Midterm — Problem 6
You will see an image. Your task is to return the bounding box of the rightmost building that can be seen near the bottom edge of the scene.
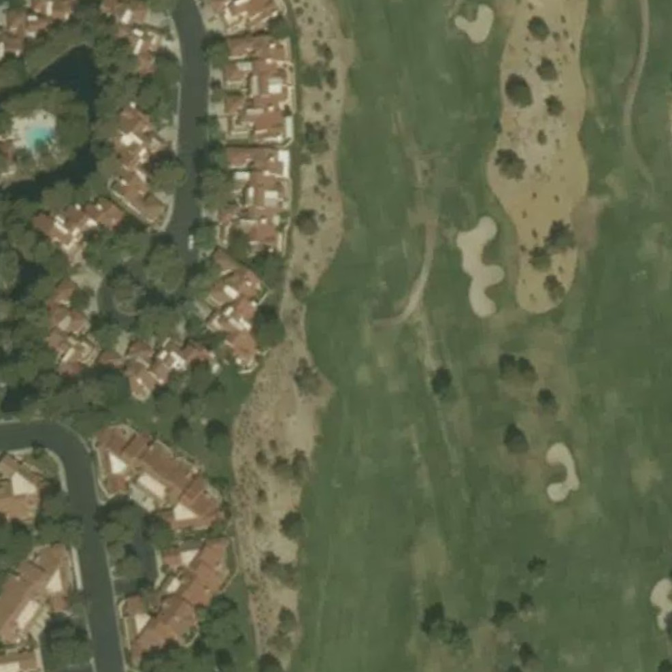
[119,528,238,667]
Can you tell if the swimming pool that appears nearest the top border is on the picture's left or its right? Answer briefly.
left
